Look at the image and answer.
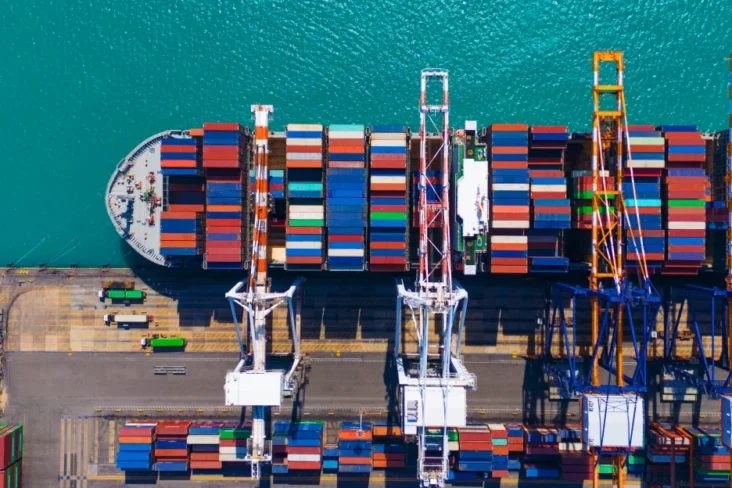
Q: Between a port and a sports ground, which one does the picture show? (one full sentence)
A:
This looks like a port.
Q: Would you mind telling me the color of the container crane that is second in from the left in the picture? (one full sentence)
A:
The container crane that is second in from the left looks white in the image.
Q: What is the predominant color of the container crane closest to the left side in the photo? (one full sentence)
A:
The color of the container crane closest to the left side is white.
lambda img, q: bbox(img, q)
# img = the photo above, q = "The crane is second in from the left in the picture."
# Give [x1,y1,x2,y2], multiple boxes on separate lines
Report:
[380,69,482,484]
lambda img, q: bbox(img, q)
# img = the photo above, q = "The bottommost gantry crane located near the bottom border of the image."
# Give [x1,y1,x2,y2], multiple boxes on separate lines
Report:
[659,433,701,488]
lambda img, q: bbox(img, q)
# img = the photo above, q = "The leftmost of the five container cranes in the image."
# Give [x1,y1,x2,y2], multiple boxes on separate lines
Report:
[224,104,320,474]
